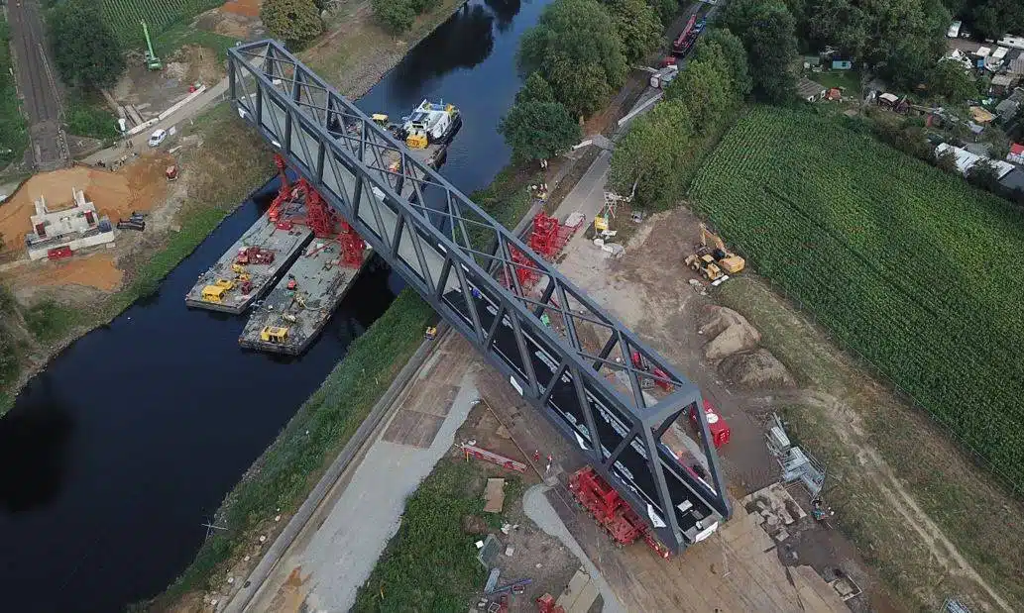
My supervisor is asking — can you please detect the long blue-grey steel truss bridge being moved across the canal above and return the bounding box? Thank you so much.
[227,36,735,557]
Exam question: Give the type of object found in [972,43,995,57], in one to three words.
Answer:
camper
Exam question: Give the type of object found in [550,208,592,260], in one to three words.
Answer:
trailer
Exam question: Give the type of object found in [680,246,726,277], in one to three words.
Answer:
work vehicle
